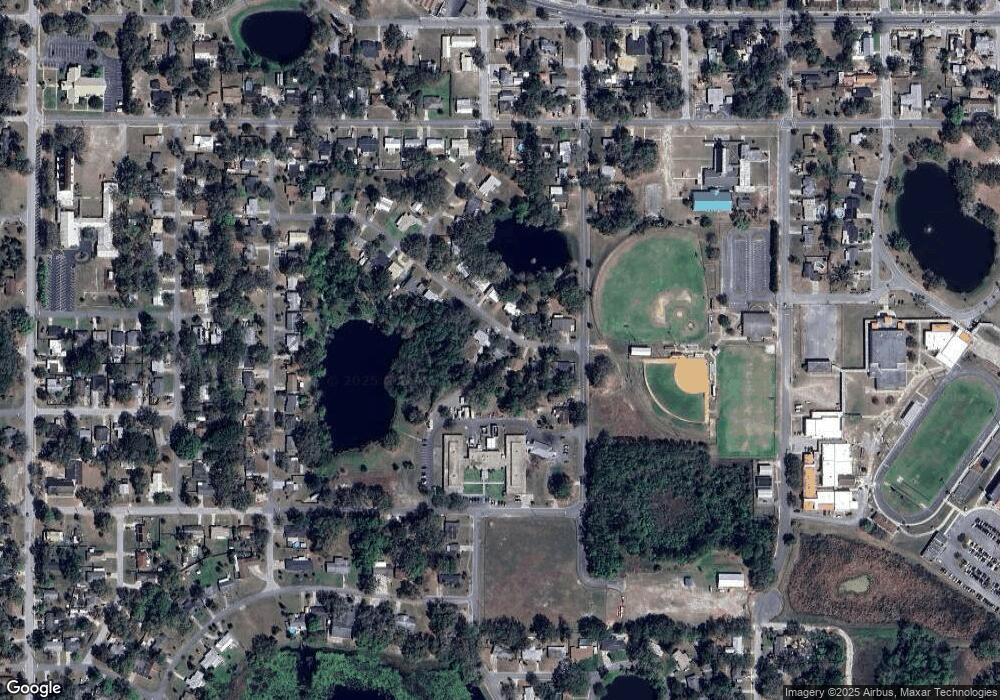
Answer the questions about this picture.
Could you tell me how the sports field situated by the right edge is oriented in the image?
on a diagonal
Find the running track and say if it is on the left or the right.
right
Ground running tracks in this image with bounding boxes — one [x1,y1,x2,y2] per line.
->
[871,369,1000,525]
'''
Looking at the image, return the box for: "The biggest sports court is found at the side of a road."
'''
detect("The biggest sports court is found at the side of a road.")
[804,306,837,361]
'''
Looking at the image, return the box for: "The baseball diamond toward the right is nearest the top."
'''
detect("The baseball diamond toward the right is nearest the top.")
[594,229,704,346]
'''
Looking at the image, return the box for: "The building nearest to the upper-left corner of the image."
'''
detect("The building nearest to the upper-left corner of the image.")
[60,64,105,103]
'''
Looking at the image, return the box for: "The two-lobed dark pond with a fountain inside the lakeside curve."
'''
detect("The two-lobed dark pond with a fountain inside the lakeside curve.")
[896,161,996,293]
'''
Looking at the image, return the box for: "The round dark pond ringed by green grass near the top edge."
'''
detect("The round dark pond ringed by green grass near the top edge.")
[240,11,312,65]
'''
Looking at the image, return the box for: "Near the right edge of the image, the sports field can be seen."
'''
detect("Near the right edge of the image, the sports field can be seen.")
[880,377,997,517]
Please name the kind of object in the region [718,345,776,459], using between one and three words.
soccer field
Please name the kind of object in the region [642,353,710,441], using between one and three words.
baseball field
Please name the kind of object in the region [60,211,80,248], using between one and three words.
building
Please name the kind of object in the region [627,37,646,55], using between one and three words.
house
